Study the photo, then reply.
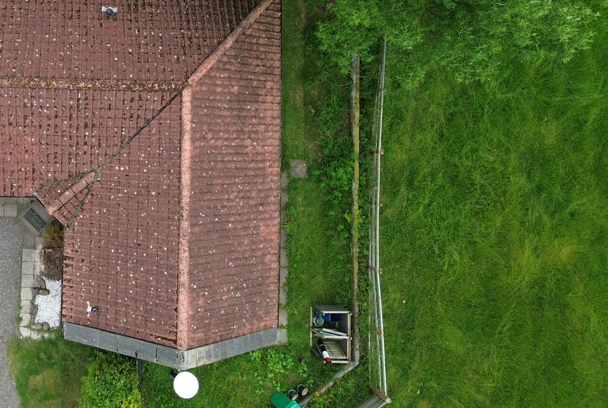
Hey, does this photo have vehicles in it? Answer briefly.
No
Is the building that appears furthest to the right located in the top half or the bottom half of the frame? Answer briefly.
bottom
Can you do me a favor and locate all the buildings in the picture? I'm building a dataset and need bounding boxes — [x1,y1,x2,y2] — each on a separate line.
[310,303,352,362]
[0,0,283,369]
